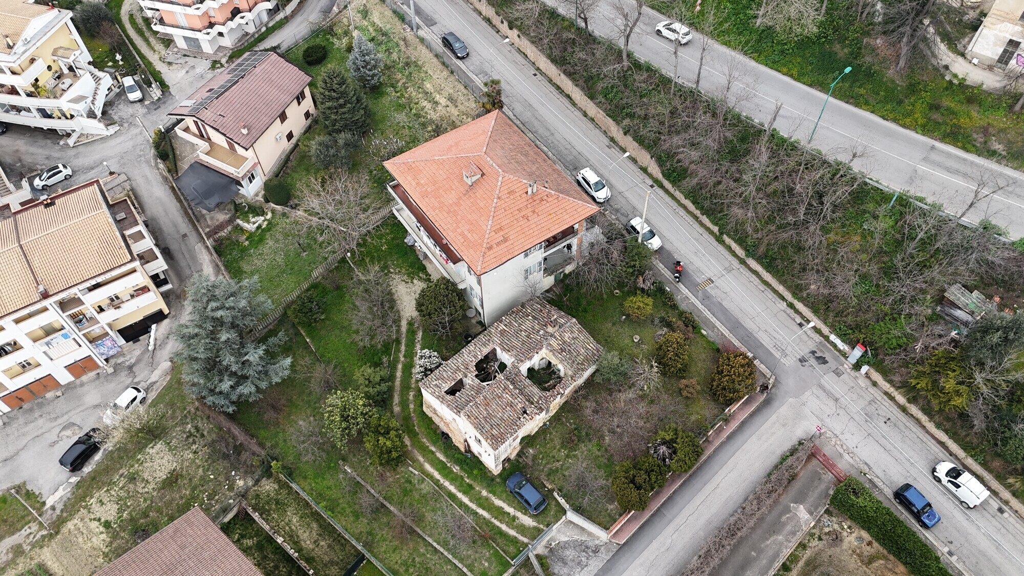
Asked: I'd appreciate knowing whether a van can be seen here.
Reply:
Yes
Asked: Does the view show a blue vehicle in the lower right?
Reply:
Yes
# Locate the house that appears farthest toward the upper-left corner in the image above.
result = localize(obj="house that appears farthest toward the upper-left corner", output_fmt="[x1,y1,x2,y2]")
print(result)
[0,0,107,135]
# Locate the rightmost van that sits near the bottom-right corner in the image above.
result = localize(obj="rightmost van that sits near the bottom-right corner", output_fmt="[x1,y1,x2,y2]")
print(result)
[931,462,993,513]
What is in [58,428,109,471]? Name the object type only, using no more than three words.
car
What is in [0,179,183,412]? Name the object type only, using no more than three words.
building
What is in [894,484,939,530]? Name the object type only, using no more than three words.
car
